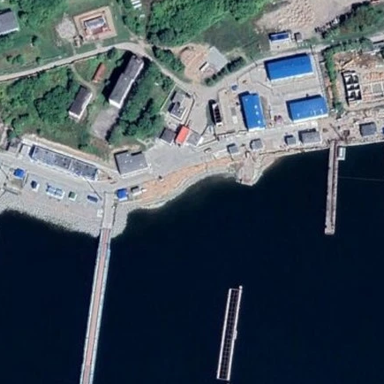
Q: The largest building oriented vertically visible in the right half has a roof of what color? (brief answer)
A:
blue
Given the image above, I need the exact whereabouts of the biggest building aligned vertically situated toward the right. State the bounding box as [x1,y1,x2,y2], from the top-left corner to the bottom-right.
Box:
[242,92,265,131]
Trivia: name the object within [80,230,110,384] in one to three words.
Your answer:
pier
